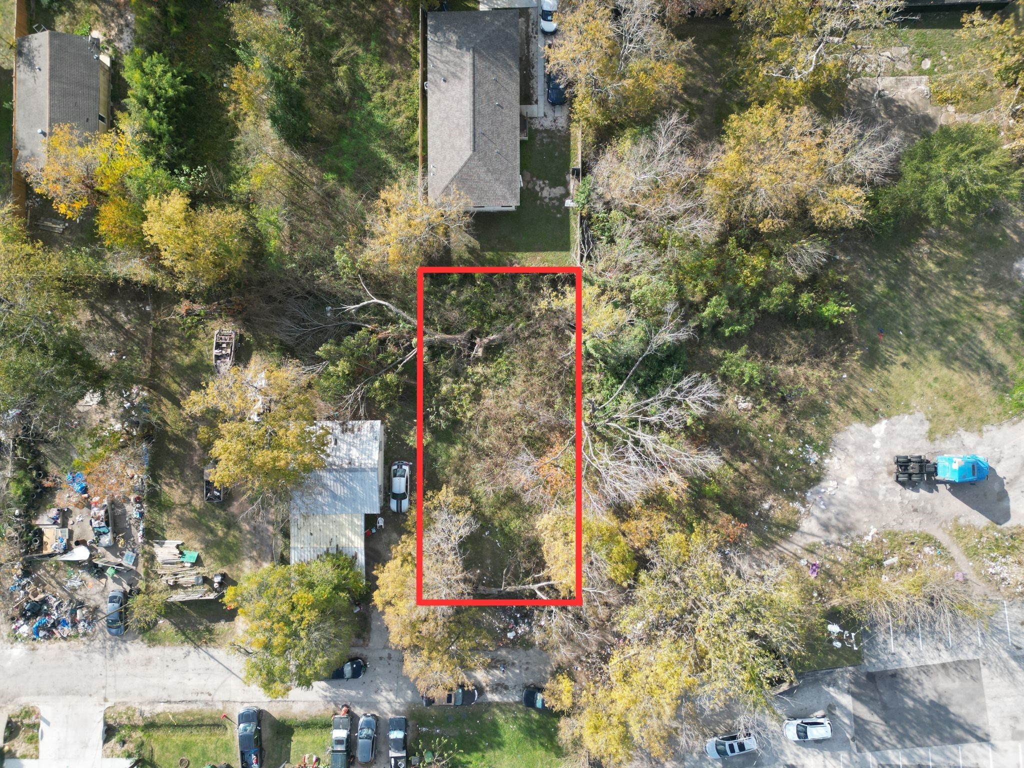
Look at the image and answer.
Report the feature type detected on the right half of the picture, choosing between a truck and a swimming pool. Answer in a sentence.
You can see a truck on the right half of the picture.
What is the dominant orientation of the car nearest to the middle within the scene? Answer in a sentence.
The car nearest to the middle runs vertically in the image.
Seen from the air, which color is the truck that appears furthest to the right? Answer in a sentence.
The truck that appears furthest to the right looks blue in the image.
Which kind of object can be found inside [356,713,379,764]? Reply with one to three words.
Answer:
car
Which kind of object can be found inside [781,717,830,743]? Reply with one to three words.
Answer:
car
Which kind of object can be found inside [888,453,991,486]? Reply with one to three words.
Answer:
truck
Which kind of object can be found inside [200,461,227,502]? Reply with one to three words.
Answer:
trailer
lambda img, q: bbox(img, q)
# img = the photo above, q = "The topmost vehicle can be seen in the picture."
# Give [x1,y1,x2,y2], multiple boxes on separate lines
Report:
[537,0,561,38]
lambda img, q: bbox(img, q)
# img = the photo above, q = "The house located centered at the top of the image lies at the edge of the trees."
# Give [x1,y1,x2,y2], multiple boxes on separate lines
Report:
[426,2,528,211]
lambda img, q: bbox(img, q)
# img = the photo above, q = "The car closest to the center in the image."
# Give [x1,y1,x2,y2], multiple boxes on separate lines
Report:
[388,461,412,512]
